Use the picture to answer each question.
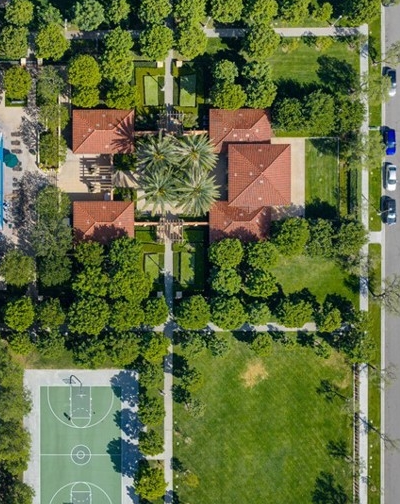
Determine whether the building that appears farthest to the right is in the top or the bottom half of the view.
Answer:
top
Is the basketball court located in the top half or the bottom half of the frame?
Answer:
bottom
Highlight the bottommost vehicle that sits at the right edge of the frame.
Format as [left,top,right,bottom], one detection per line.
[384,197,398,223]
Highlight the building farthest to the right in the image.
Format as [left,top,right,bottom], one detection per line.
[207,108,291,244]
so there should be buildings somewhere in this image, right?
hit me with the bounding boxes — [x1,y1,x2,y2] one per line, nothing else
[73,201,134,244]
[207,108,291,244]
[73,109,134,155]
